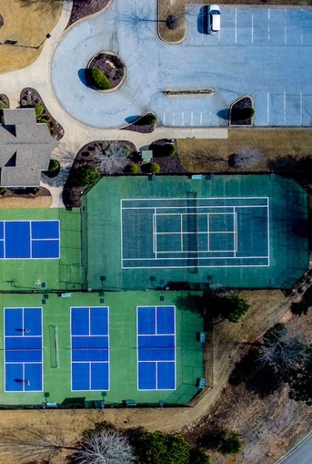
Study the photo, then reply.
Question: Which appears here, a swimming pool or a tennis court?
tennis court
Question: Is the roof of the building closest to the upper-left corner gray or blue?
gray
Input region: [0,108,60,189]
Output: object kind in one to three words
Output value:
building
